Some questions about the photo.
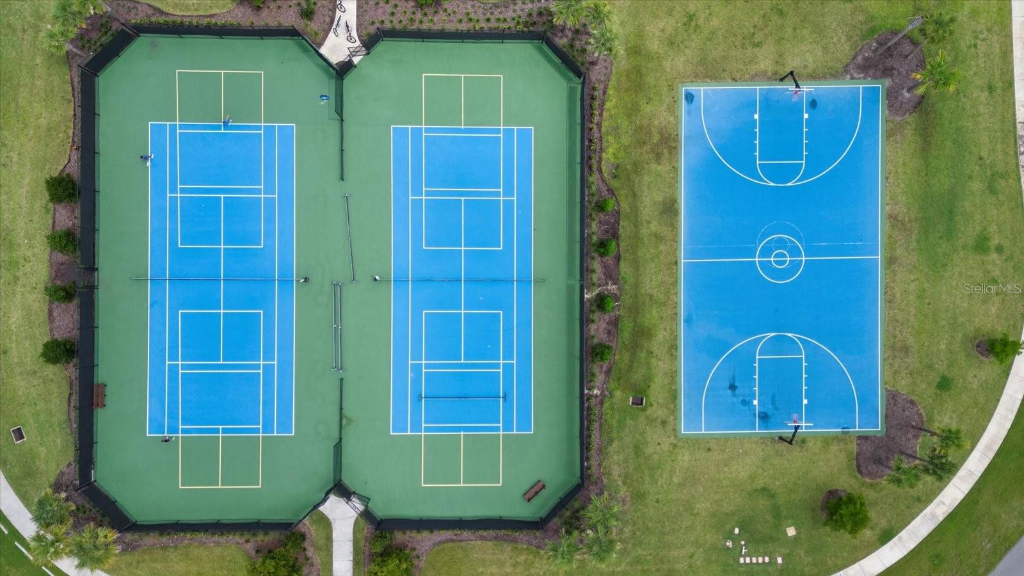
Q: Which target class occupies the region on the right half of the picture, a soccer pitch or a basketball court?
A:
basketball court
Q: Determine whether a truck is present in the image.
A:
No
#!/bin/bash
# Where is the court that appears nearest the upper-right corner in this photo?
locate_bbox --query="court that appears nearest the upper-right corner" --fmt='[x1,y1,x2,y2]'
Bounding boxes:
[678,79,887,438]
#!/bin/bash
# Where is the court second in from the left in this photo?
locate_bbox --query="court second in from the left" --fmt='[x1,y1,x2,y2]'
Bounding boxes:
[339,37,586,521]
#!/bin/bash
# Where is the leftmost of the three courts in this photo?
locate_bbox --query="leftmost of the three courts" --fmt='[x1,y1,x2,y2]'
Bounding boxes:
[92,34,343,524]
